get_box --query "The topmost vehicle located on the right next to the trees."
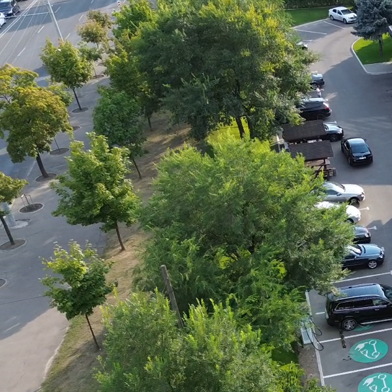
[329,7,356,23]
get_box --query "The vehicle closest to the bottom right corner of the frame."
[325,281,392,330]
